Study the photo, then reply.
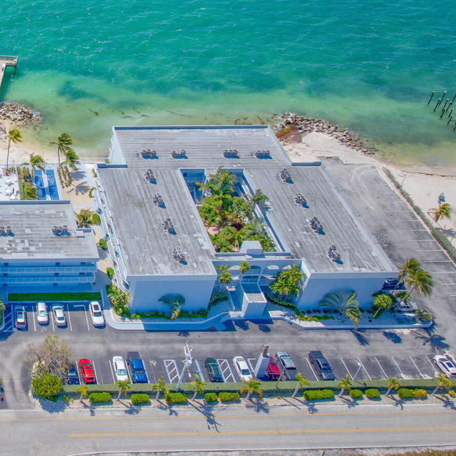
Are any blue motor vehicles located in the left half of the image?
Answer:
Yes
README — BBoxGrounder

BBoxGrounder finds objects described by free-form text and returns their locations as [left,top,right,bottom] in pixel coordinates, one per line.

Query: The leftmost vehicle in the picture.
[13,306,28,329]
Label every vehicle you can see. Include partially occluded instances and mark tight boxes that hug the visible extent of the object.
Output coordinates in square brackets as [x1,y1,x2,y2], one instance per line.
[273,351,298,383]
[391,300,423,312]
[111,355,129,383]
[203,357,225,384]
[78,358,96,385]
[127,351,148,385]
[52,304,66,328]
[232,354,253,383]
[64,361,81,386]
[431,353,456,380]
[35,300,50,325]
[89,301,104,327]
[13,306,28,329]
[268,355,285,382]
